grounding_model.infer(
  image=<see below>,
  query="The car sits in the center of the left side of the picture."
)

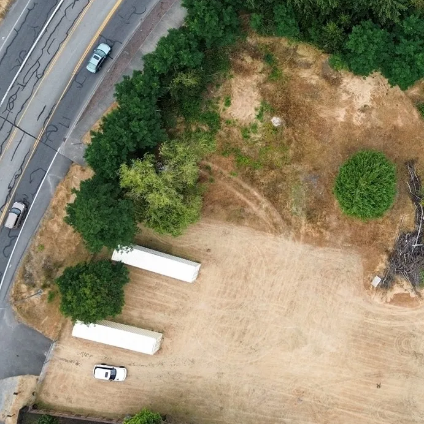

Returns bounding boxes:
[3,201,27,230]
